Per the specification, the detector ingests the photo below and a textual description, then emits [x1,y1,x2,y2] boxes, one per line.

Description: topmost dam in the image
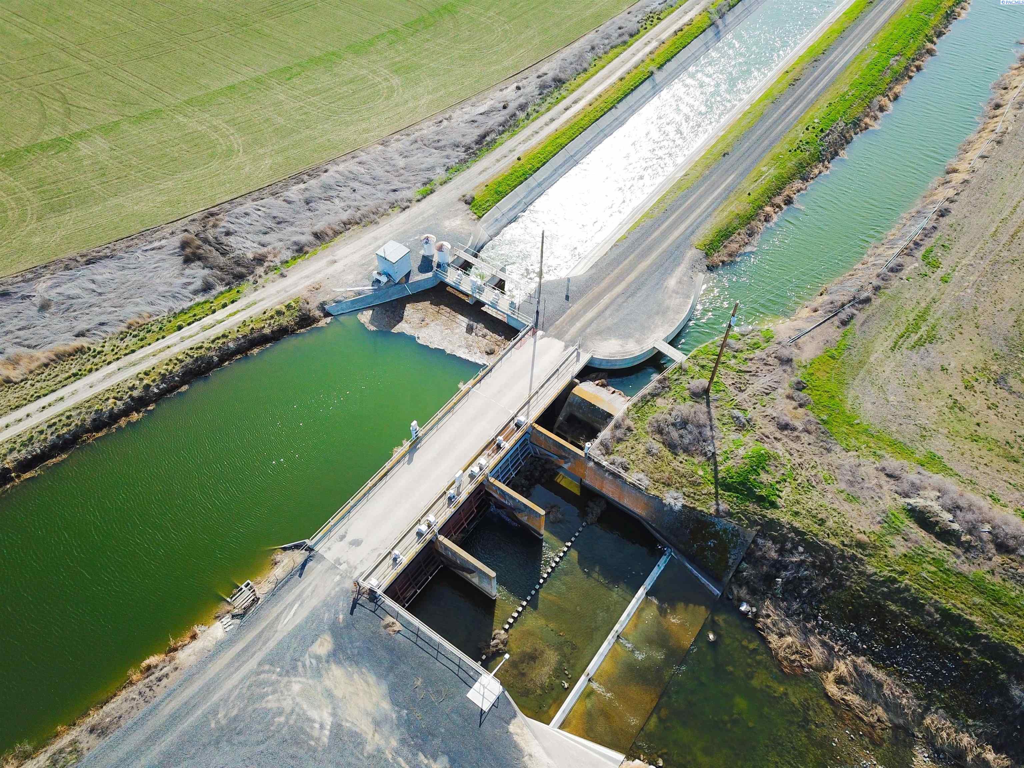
[551,380,627,454]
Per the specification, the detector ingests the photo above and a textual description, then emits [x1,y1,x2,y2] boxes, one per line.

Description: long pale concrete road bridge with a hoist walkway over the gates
[309,325,596,596]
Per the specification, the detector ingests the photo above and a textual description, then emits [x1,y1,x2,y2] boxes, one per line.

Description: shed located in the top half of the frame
[373,239,411,282]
